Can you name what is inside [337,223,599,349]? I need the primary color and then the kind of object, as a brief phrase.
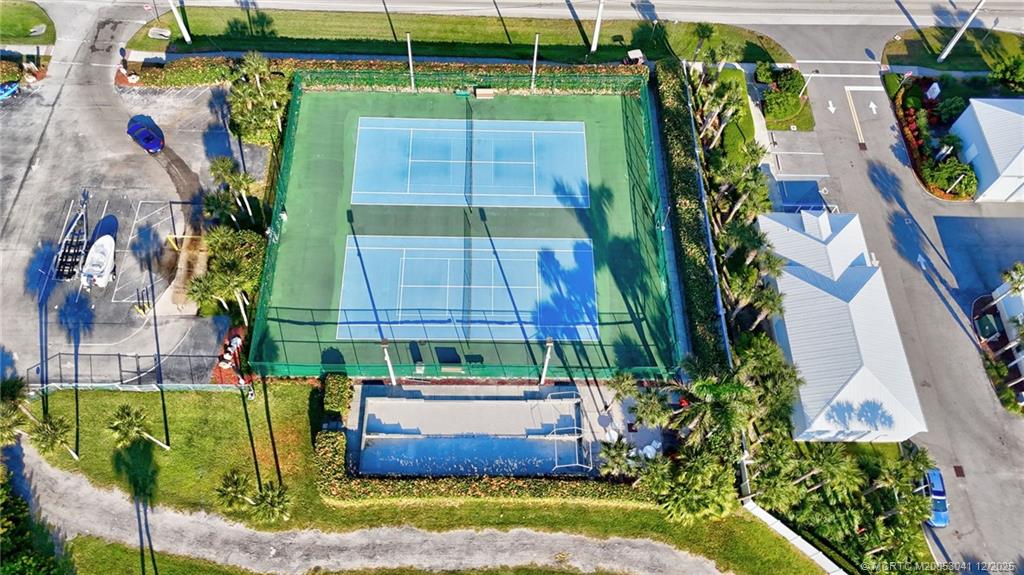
blue tennis court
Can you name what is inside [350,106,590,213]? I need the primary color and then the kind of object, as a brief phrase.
blue tennis court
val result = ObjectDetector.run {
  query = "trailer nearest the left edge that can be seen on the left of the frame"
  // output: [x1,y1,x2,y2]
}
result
[60,200,92,265]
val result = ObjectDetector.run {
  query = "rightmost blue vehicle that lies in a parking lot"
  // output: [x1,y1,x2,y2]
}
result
[126,121,165,153]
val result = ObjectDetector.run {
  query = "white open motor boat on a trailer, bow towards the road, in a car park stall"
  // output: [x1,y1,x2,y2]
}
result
[80,235,115,296]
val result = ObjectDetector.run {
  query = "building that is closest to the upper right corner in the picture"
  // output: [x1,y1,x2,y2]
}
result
[952,100,1024,202]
